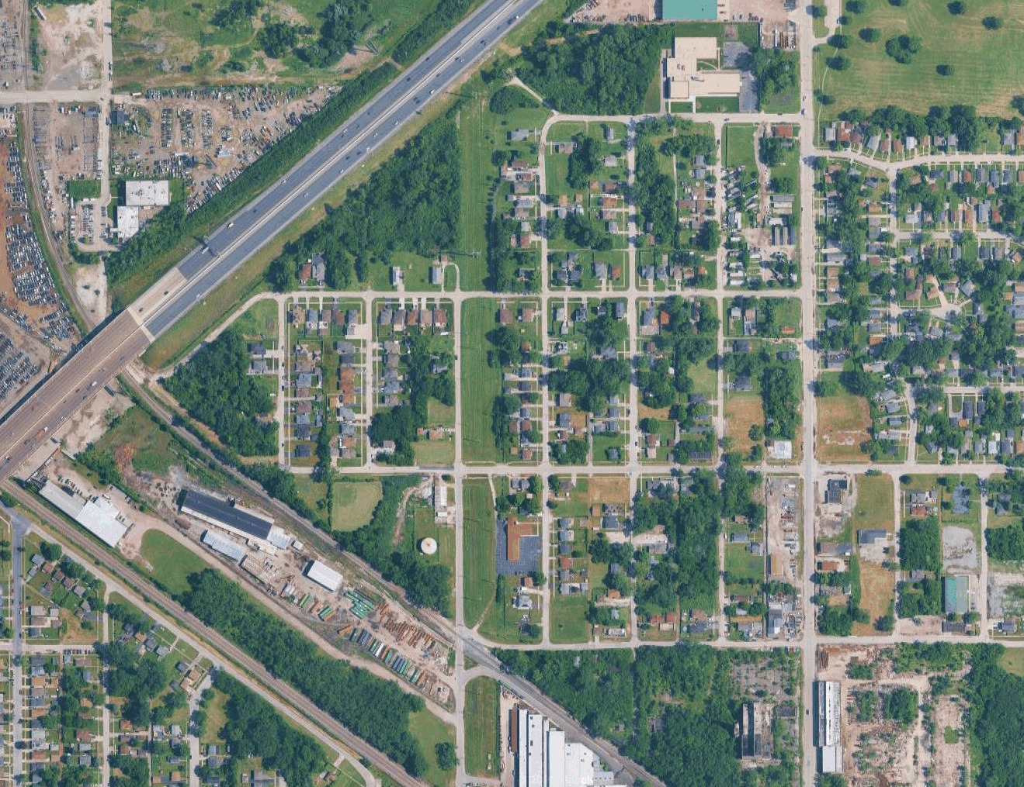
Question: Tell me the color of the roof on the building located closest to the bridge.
white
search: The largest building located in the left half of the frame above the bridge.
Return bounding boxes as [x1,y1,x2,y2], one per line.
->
[110,180,169,240]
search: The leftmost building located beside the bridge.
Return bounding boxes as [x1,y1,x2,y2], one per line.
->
[36,476,128,547]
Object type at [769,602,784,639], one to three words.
shed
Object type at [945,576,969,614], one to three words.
building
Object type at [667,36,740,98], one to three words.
building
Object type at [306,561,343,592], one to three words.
shed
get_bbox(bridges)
[0,309,155,486]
